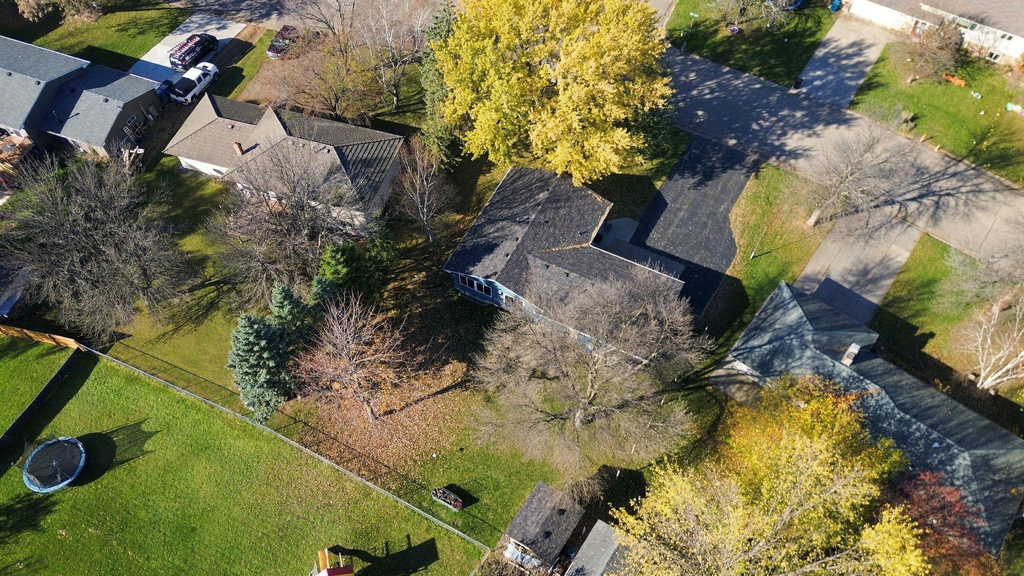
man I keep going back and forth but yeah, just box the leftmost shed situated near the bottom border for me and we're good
[505,481,586,570]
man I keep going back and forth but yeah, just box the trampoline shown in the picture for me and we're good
[4,425,88,496]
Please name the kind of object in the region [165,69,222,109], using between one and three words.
truck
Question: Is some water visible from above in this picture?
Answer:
No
